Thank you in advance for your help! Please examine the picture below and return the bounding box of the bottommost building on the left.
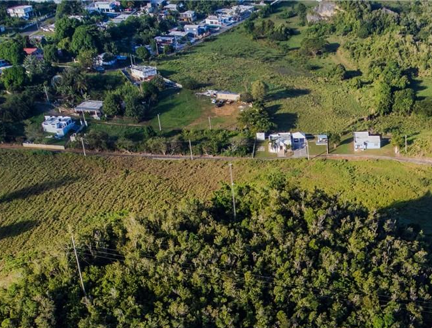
[42,111,82,138]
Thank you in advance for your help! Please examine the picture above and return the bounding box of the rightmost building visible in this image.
[351,129,382,150]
